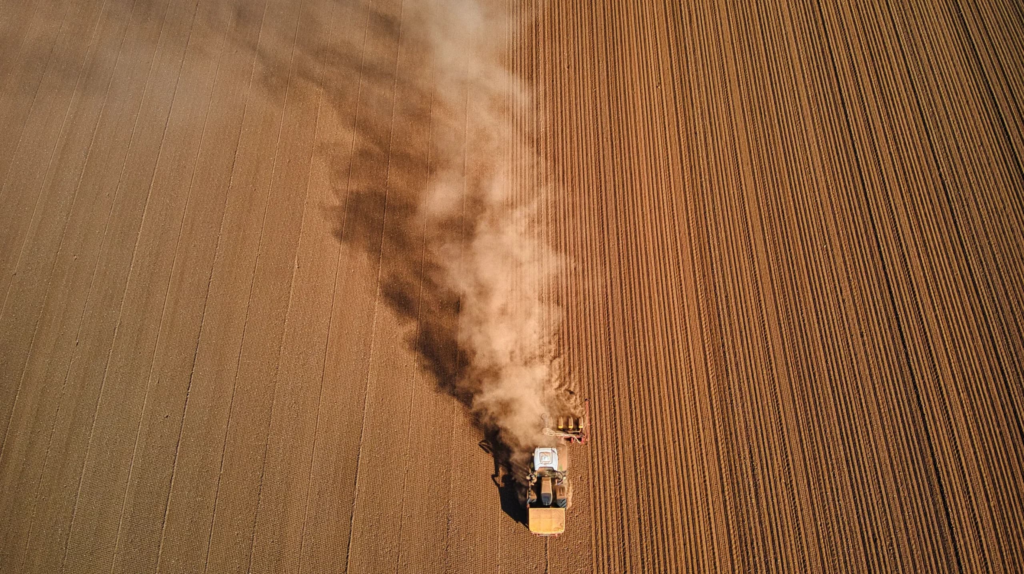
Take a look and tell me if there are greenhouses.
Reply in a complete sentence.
No, this view has no greenhouse in it.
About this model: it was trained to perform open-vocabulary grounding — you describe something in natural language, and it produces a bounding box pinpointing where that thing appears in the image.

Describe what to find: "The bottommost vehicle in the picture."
[523,436,568,511]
